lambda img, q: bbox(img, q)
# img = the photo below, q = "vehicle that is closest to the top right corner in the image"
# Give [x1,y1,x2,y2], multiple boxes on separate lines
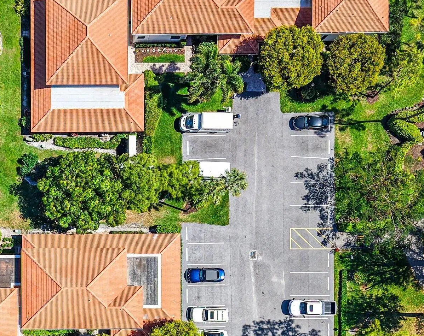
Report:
[290,112,331,132]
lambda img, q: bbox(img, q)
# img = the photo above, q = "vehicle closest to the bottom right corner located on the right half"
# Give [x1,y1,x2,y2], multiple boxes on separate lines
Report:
[287,298,338,317]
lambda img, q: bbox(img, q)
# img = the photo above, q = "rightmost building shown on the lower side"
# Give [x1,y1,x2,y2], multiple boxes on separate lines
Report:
[21,233,181,336]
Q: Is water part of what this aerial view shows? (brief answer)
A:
No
